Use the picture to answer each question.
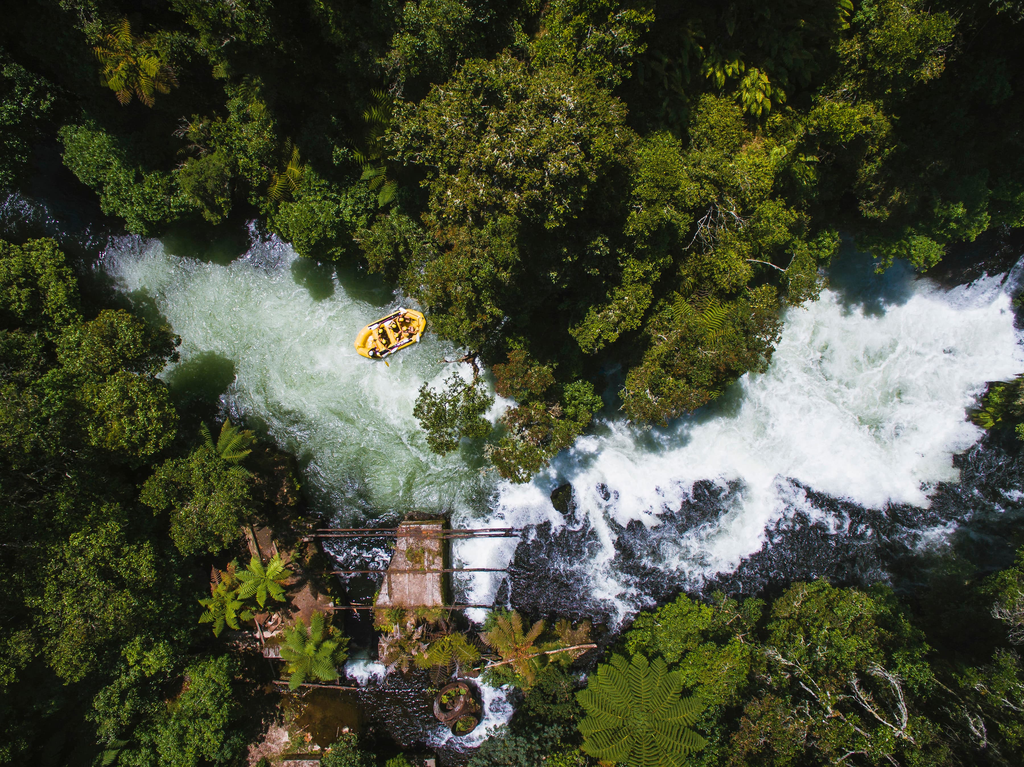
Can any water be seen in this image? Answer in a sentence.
Yes, the picture does contain water.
